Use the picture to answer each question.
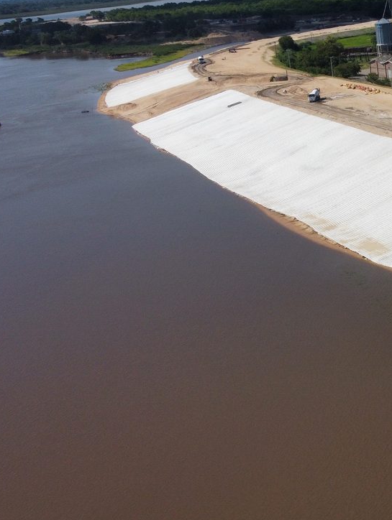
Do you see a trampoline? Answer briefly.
No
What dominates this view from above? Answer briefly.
water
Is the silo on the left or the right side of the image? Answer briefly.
right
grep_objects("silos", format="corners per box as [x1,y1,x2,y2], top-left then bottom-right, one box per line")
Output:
[371,13,392,54]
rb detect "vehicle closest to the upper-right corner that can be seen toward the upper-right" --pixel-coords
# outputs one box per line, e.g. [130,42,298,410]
[302,85,322,101]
